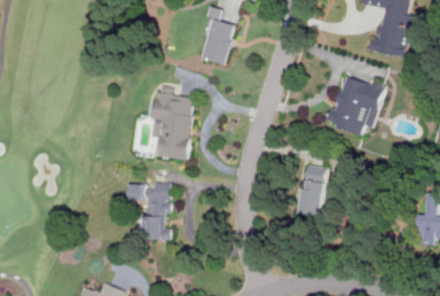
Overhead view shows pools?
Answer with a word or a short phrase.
Yes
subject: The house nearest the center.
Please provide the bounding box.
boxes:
[150,86,194,162]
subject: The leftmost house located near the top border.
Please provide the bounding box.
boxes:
[201,6,236,65]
